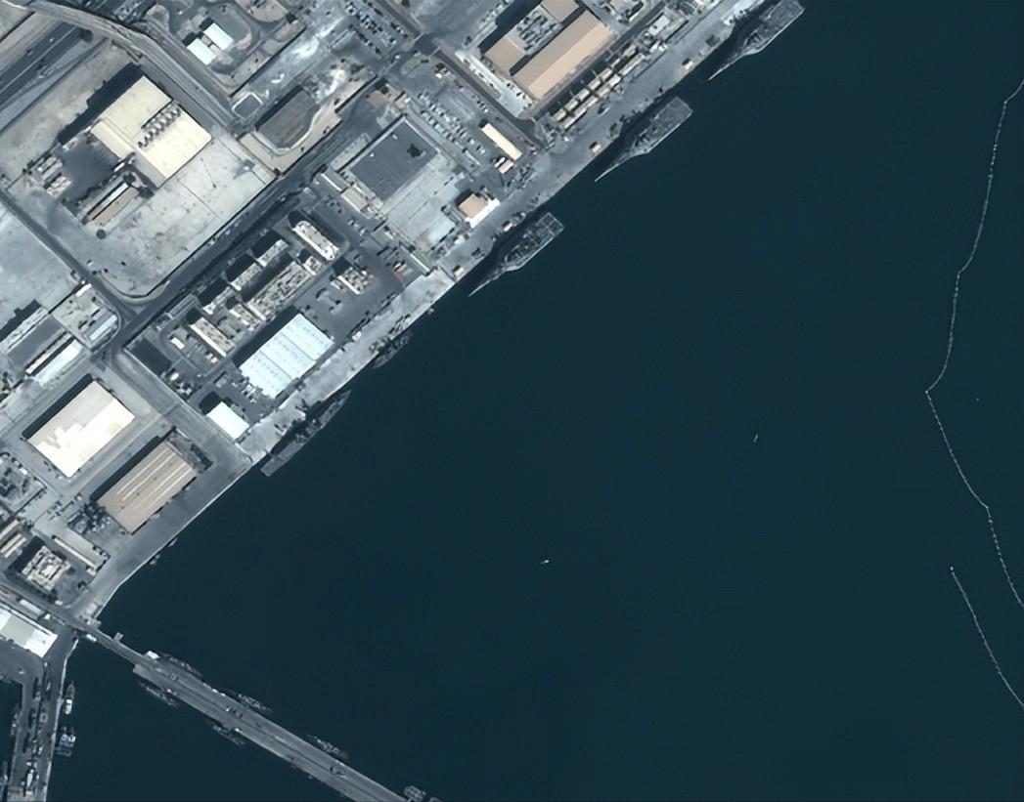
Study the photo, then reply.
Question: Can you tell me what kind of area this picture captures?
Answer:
port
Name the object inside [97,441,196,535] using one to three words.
hangar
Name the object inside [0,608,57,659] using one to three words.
building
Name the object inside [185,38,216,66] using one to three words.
building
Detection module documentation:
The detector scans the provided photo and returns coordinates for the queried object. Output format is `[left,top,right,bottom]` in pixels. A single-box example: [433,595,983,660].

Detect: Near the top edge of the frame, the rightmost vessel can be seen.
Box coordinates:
[708,0,808,80]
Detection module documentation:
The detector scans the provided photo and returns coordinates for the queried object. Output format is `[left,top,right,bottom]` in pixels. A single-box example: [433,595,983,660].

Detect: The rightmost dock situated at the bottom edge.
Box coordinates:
[84,629,407,802]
